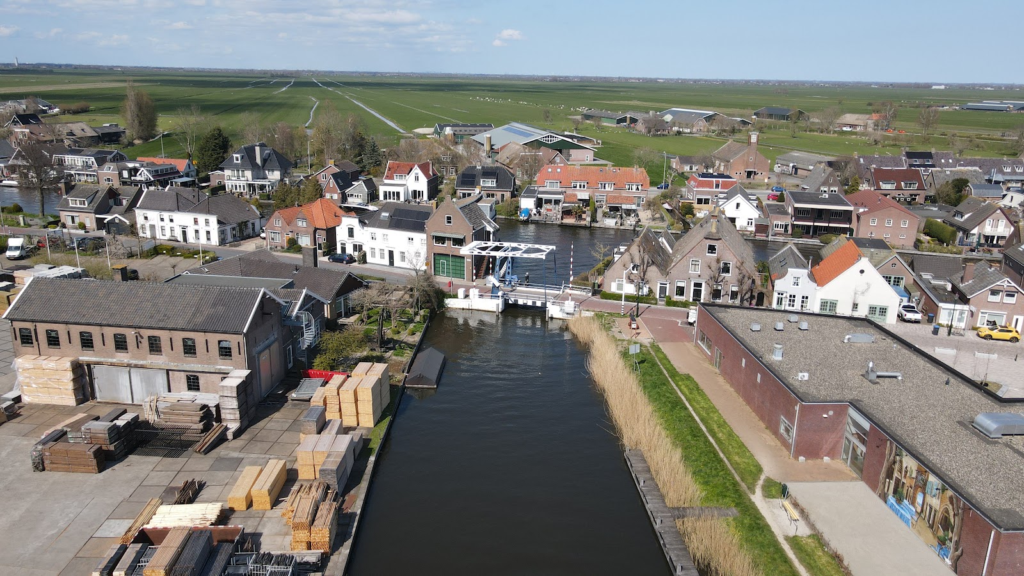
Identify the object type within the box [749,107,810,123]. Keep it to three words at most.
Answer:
barn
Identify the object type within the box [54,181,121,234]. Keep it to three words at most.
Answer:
house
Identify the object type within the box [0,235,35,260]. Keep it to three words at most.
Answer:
truck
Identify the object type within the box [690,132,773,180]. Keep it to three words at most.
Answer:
building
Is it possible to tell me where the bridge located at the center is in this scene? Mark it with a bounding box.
[459,239,561,311]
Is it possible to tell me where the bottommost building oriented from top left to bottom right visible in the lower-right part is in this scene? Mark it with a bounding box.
[694,303,1024,576]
